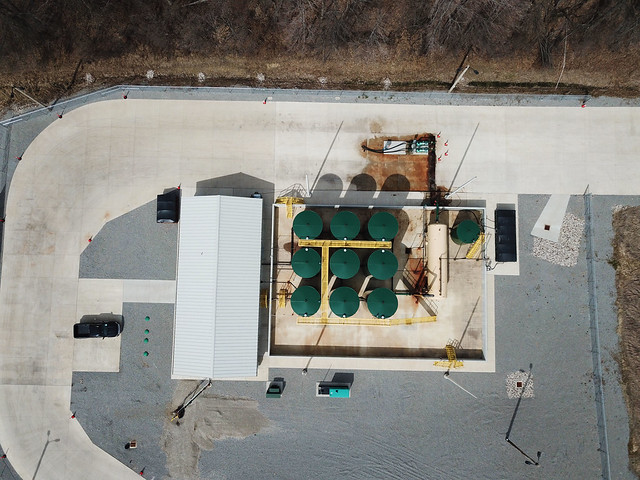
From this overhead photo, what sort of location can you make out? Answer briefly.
industrial area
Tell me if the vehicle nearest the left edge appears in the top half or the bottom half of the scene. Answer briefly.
bottom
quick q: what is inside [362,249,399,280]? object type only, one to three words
storage tank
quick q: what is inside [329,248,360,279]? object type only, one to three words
storage tank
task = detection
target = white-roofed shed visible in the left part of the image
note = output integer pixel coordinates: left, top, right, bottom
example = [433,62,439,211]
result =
[172,194,264,380]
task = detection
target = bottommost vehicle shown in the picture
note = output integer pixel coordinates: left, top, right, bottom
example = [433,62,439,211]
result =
[73,318,124,338]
